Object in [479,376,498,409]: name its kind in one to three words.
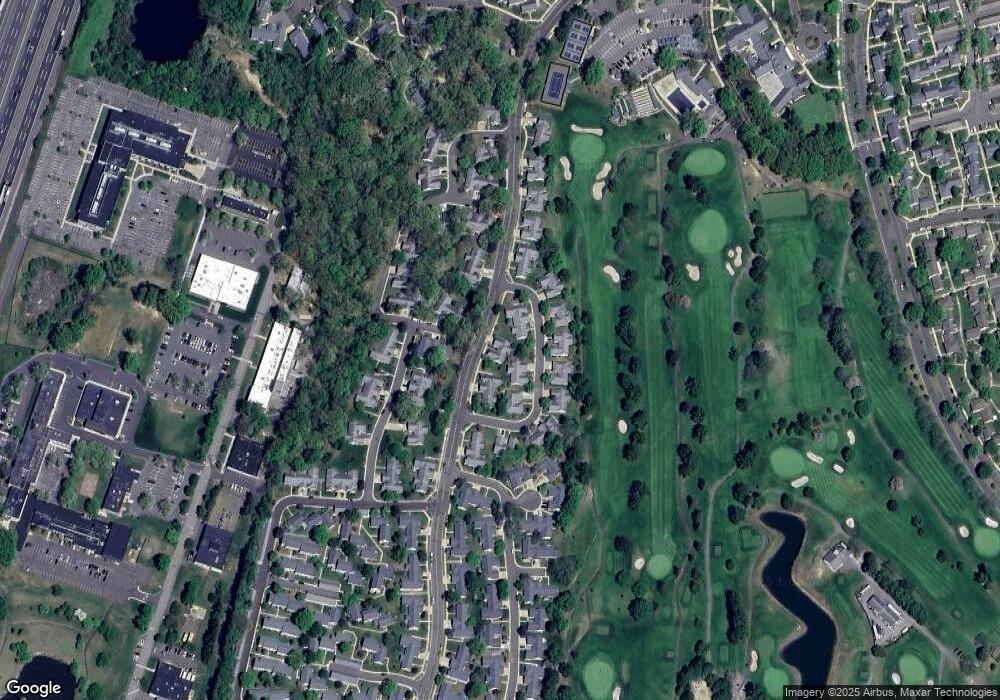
house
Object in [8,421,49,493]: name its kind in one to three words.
building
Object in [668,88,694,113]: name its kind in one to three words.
swimming pool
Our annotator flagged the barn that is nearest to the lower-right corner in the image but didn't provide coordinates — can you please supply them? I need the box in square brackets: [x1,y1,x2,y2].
[866,592,899,626]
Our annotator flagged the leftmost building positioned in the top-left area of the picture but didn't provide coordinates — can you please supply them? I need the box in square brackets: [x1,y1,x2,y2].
[79,109,190,231]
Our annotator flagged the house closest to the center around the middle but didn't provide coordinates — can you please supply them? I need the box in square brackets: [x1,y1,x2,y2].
[487,338,512,366]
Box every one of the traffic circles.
[792,23,832,63]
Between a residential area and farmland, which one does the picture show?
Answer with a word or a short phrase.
residential area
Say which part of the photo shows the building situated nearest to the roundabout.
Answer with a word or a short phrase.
top right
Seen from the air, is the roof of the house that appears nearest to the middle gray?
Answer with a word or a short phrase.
Yes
